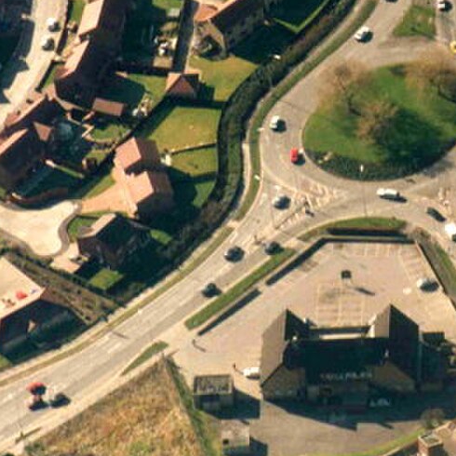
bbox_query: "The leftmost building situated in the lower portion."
[0,289,72,358]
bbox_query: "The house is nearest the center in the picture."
[125,168,176,218]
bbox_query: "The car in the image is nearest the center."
[224,247,242,261]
